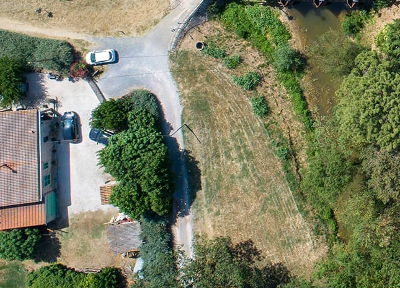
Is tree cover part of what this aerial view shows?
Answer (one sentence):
Yes, tree cover can be seen from above here.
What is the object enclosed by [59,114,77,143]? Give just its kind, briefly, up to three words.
car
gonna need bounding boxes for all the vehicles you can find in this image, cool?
[85,49,115,64]
[59,114,77,143]
[87,130,117,149]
